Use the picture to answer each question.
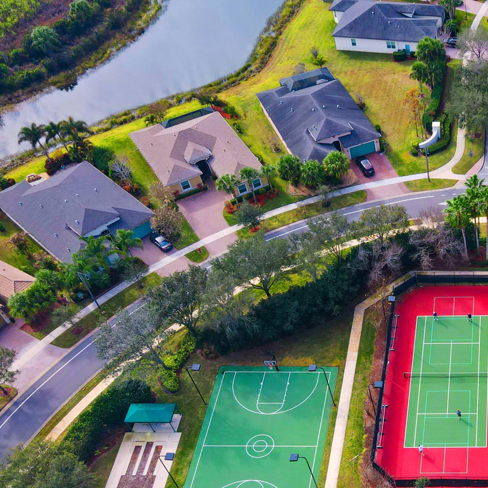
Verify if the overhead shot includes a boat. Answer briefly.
No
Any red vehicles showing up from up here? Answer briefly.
No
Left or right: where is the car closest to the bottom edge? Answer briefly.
left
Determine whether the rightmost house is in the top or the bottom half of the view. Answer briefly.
top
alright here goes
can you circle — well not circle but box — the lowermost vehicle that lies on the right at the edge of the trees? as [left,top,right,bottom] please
[354,156,374,174]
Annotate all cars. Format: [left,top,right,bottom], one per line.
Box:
[445,34,465,45]
[148,230,173,250]
[354,156,374,174]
